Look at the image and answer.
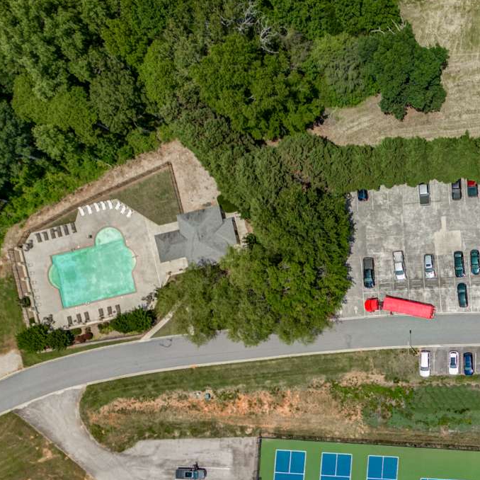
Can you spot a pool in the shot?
Yes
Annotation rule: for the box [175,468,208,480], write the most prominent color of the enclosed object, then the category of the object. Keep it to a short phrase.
gray vehicle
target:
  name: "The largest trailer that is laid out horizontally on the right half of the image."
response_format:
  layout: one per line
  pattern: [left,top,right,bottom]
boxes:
[384,296,437,319]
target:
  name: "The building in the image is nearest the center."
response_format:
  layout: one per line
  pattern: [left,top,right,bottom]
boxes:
[154,207,241,268]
